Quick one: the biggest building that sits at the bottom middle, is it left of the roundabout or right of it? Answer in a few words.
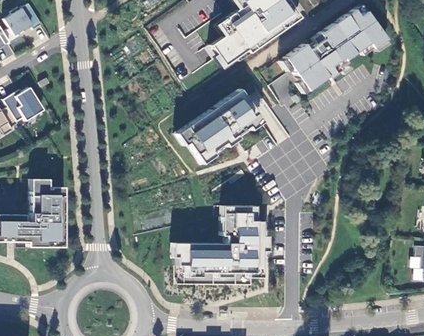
on the right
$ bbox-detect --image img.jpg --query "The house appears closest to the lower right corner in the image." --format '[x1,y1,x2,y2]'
[408,246,424,283]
